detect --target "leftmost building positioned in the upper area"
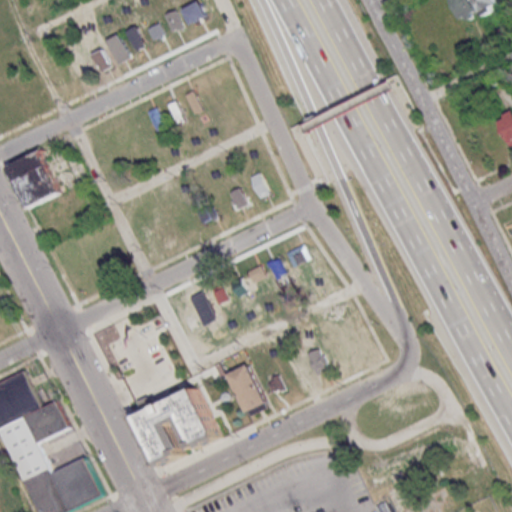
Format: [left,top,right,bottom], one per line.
[4,147,63,215]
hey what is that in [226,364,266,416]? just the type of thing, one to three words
building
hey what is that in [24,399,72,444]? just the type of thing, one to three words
building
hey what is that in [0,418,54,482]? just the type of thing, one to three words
shed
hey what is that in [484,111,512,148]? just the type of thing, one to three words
house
